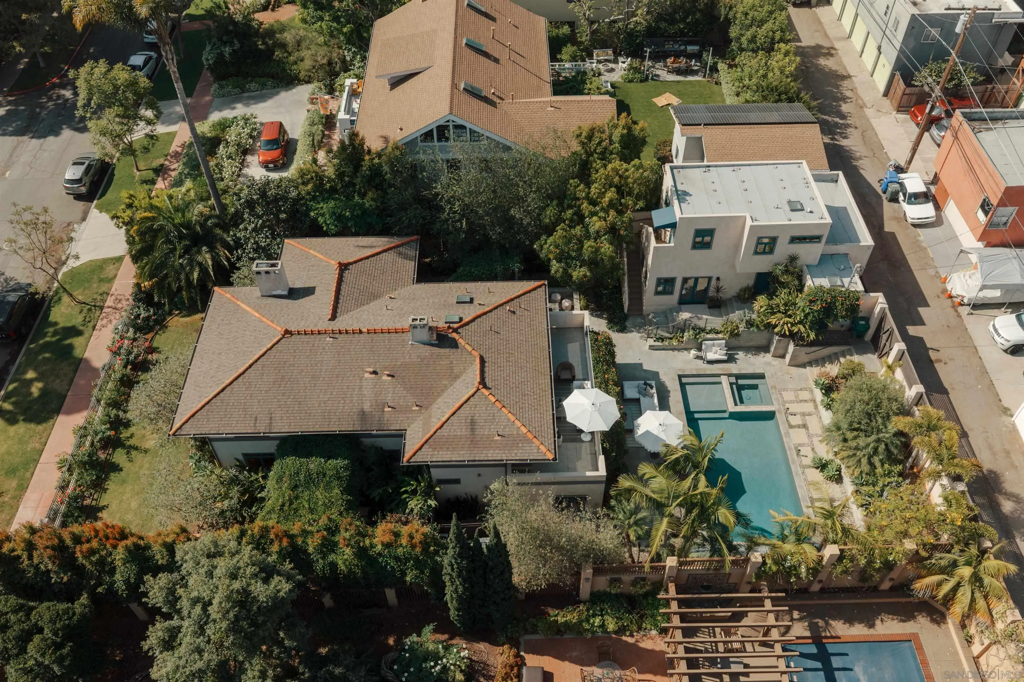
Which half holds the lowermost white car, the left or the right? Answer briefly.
right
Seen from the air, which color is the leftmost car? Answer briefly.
black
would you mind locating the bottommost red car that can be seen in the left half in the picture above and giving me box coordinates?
[255,115,294,167]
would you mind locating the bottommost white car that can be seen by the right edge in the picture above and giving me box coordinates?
[993,304,1024,351]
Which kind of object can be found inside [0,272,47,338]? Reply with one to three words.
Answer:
car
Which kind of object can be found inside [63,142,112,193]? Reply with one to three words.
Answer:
car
